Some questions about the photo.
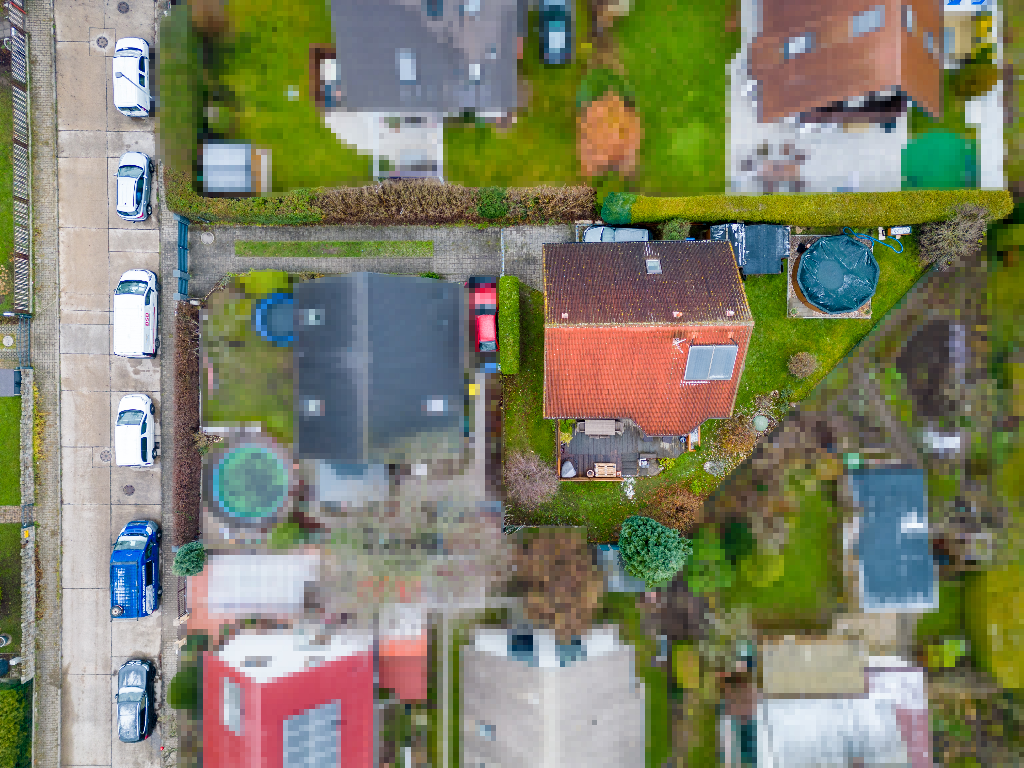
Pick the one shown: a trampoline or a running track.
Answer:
trampoline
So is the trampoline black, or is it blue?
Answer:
blue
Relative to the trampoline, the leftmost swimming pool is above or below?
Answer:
below it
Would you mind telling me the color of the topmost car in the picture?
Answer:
blue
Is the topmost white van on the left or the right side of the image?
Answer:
left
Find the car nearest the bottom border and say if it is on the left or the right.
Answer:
left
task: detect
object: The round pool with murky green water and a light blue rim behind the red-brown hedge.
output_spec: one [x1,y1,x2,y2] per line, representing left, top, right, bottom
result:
[214,444,293,519]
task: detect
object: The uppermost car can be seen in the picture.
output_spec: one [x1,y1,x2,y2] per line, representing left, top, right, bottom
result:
[539,2,576,74]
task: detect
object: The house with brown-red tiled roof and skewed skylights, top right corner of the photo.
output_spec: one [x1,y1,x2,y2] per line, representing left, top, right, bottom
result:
[745,0,947,127]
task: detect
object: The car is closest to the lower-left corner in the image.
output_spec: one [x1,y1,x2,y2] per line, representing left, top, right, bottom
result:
[113,658,160,744]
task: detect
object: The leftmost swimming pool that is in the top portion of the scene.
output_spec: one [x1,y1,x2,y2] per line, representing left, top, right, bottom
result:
[794,234,880,316]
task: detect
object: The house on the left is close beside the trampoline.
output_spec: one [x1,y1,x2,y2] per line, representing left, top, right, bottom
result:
[293,271,468,466]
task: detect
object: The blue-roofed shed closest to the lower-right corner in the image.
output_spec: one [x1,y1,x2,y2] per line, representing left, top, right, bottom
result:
[840,468,939,609]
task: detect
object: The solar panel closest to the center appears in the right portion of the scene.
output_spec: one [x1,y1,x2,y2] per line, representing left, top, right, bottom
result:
[684,339,740,383]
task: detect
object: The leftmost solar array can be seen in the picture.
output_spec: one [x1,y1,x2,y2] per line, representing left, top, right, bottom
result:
[286,687,342,768]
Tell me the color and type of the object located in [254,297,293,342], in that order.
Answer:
blue trampoline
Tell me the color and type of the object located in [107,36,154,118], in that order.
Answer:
white van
